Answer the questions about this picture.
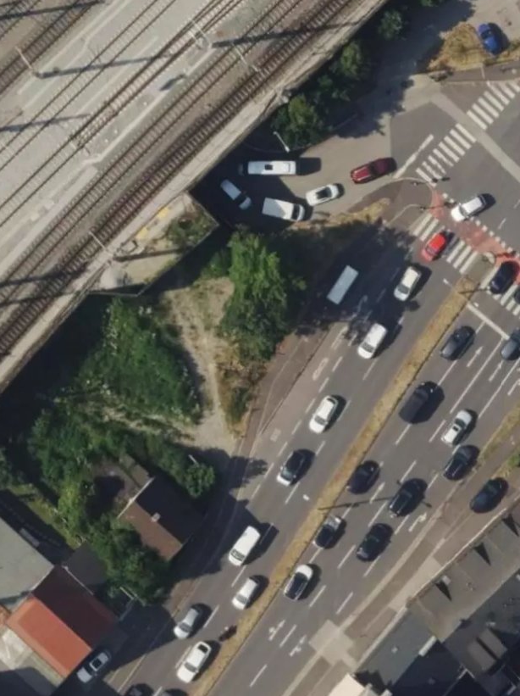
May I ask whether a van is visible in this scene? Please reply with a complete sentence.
Yes, the picture does show a van.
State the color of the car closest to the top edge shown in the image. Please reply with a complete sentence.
From above, the car closest to the top edge appears blue.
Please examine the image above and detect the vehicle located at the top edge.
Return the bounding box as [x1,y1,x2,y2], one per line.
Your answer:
[477,21,503,57]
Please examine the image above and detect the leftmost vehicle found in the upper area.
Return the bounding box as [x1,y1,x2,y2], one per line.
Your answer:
[217,176,254,214]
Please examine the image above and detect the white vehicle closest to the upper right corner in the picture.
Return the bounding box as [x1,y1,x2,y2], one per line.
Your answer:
[450,192,490,222]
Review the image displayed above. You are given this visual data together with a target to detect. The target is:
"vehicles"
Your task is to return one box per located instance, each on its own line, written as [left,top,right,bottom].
[500,326,520,363]
[442,443,476,483]
[488,259,518,295]
[77,646,112,685]
[348,459,378,494]
[258,195,308,224]
[450,192,490,222]
[472,474,506,513]
[421,228,450,264]
[304,183,342,206]
[440,323,472,362]
[441,407,473,448]
[172,602,205,642]
[282,563,315,602]
[400,382,435,422]
[240,156,298,180]
[353,160,393,183]
[217,176,254,214]
[390,478,423,517]
[228,524,262,566]
[156,687,176,696]
[356,321,391,361]
[231,575,261,610]
[280,449,310,485]
[177,641,211,680]
[309,394,341,434]
[477,21,503,57]
[396,265,424,301]
[312,512,345,551]
[358,522,391,562]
